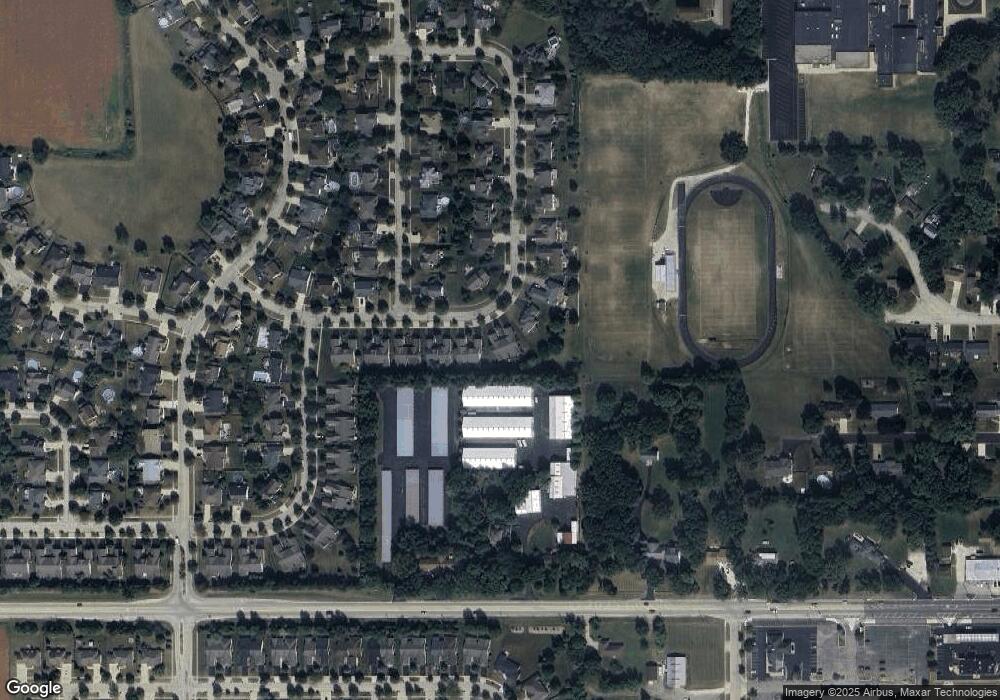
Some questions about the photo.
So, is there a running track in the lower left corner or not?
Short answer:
No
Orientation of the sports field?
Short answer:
vertically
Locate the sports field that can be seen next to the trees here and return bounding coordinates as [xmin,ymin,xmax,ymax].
[687,183,768,357]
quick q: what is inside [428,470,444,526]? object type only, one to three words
shed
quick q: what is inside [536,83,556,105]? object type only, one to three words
house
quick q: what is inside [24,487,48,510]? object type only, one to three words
house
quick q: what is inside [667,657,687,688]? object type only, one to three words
building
